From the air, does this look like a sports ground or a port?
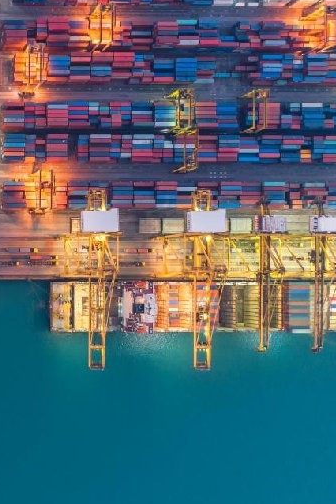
port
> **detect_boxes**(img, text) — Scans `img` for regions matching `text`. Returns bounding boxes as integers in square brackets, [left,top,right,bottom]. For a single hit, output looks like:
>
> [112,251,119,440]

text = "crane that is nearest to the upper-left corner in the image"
[21,46,45,97]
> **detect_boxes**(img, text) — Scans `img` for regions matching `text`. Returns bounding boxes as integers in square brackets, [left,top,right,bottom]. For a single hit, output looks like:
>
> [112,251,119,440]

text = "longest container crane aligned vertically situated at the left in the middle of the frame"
[55,188,122,369]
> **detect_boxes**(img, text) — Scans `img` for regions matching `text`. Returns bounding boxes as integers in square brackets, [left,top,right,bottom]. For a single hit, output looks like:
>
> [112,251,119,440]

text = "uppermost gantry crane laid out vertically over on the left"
[92,0,116,53]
